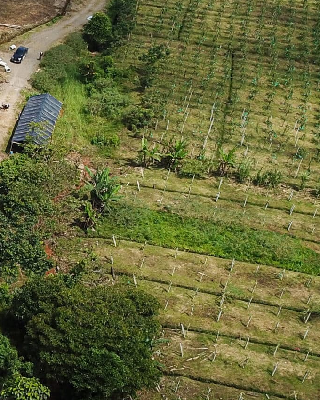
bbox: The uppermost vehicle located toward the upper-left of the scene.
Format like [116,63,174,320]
[12,45,28,60]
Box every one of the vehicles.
[12,45,28,60]
[0,105,9,111]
